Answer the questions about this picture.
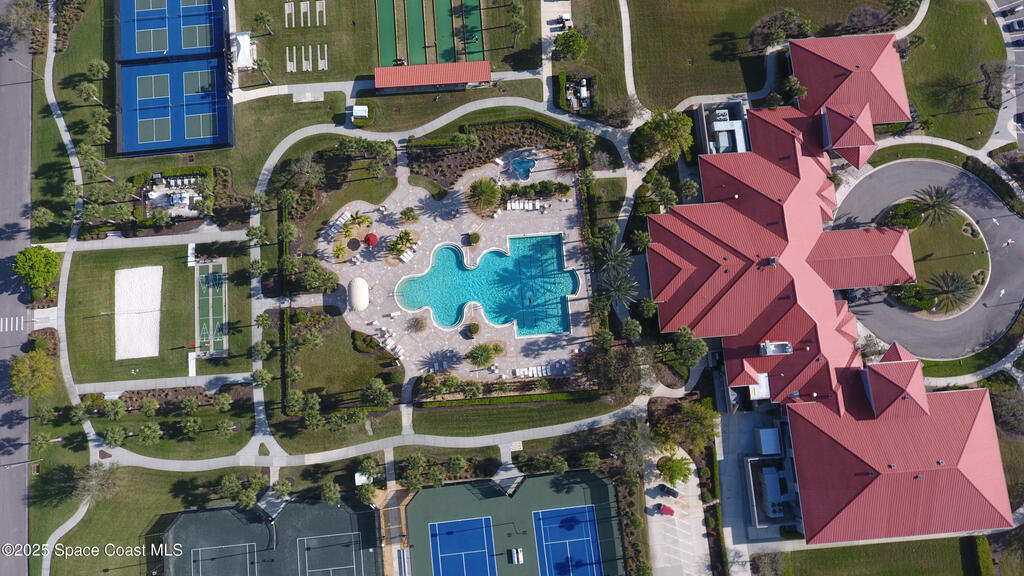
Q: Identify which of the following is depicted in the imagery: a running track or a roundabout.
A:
roundabout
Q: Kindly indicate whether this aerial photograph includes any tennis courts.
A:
Yes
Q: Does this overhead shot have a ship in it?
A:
No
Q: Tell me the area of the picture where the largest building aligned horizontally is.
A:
top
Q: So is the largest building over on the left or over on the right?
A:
right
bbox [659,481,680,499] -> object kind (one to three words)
car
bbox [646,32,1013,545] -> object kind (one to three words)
building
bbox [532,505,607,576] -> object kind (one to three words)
tennis court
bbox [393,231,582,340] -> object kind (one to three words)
swimming pool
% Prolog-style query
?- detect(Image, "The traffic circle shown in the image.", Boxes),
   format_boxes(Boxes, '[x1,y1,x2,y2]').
[870,197,992,322]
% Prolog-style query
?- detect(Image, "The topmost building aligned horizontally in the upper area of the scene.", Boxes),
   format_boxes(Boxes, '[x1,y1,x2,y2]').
[375,61,493,97]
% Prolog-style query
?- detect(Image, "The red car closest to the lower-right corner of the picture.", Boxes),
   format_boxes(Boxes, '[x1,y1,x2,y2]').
[656,501,677,516]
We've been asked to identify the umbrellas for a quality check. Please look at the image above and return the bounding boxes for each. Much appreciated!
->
[365,234,378,247]
[148,189,160,199]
